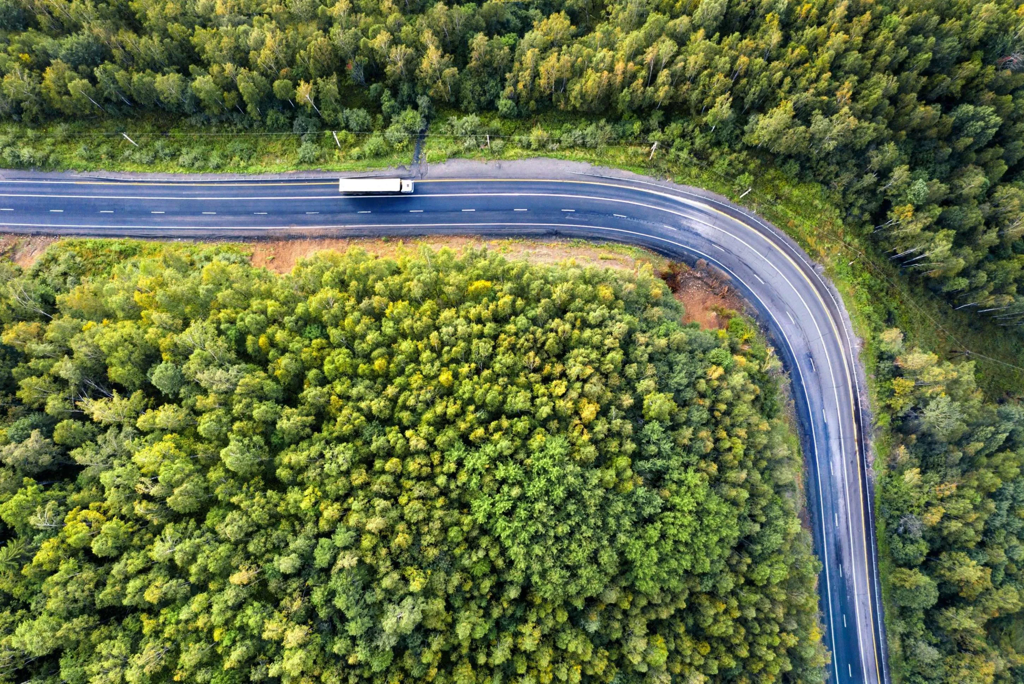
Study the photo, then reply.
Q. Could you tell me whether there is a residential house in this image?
No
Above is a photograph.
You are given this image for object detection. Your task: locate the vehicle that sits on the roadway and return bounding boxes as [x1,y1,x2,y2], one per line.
[340,179,415,196]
